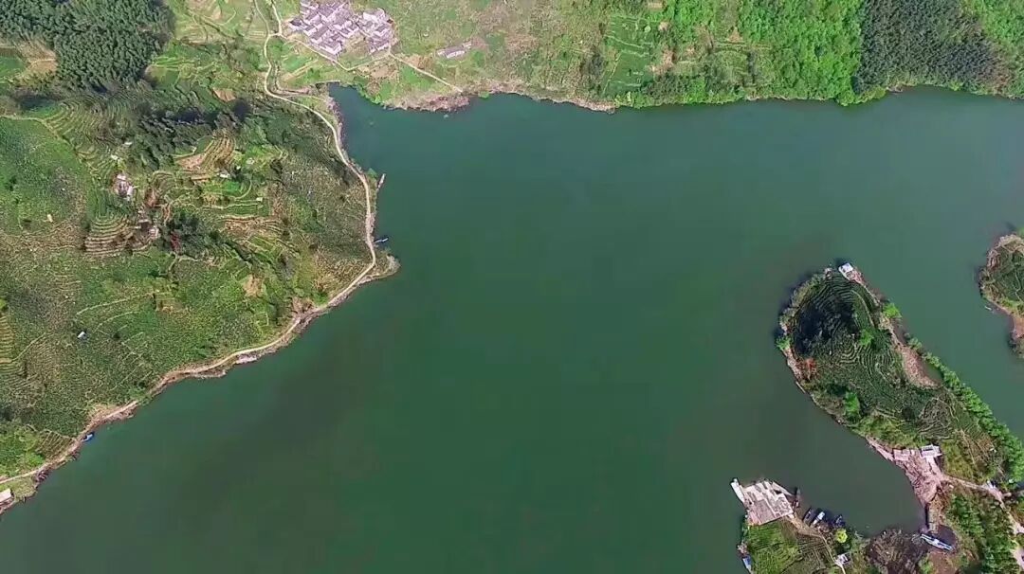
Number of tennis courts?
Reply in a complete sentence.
There are no tennis courts in the image.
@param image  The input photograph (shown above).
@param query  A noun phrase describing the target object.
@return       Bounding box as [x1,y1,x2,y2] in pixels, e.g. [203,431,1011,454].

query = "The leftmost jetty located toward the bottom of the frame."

[742,478,794,527]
